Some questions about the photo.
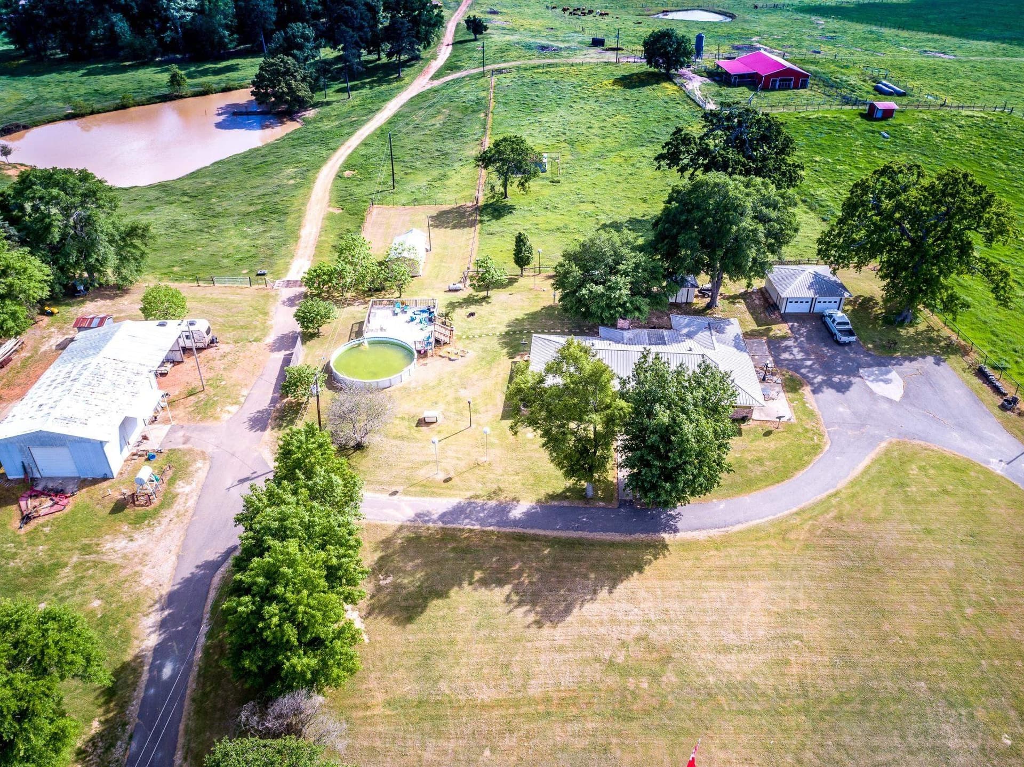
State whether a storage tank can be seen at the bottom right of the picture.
No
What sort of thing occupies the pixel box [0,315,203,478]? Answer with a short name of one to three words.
barn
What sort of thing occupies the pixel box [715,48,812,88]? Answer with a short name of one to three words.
barn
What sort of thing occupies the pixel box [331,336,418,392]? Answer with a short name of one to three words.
swimming pool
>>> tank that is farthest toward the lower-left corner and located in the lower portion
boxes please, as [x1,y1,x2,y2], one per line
[129,467,159,501]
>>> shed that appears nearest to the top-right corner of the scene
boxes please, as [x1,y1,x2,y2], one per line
[868,104,903,118]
